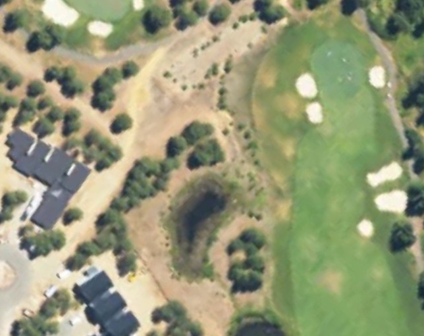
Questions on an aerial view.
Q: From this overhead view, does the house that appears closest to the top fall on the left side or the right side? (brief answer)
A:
left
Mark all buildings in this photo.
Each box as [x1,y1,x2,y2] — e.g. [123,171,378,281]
[1,128,91,230]
[75,263,139,336]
